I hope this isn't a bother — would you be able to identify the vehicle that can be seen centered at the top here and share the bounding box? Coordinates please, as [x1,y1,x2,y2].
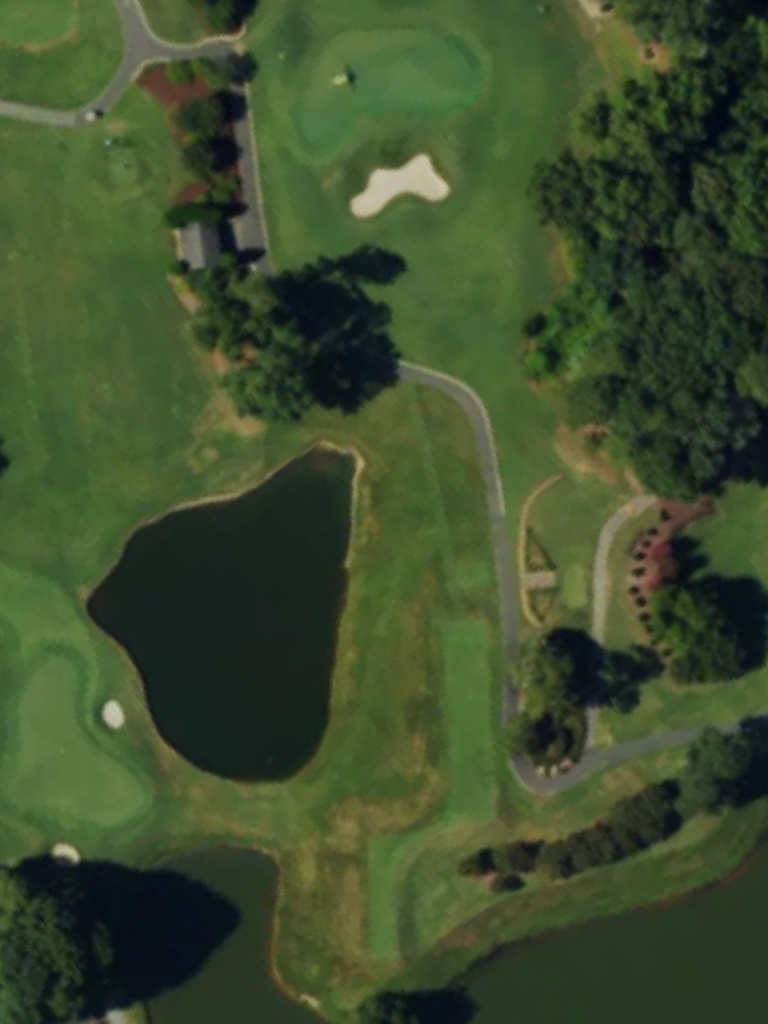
[333,63,352,90]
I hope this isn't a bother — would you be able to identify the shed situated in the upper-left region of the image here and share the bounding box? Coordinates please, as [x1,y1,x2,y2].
[179,220,221,270]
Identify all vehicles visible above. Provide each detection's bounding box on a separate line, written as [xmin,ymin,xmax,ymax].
[82,109,98,122]
[333,63,352,90]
